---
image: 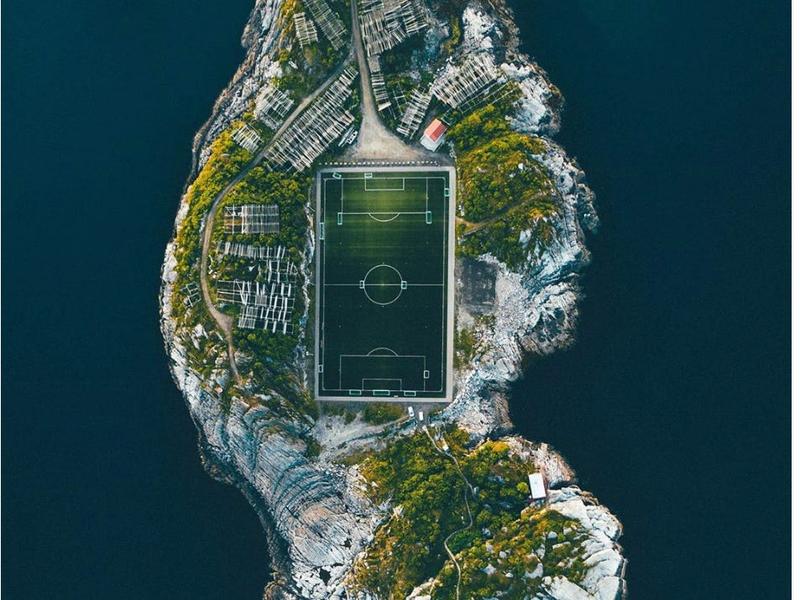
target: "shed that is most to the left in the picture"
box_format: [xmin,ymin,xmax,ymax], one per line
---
[421,116,448,145]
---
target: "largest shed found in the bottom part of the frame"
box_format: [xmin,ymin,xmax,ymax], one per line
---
[530,473,550,501]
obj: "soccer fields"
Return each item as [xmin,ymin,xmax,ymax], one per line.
[316,166,455,402]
